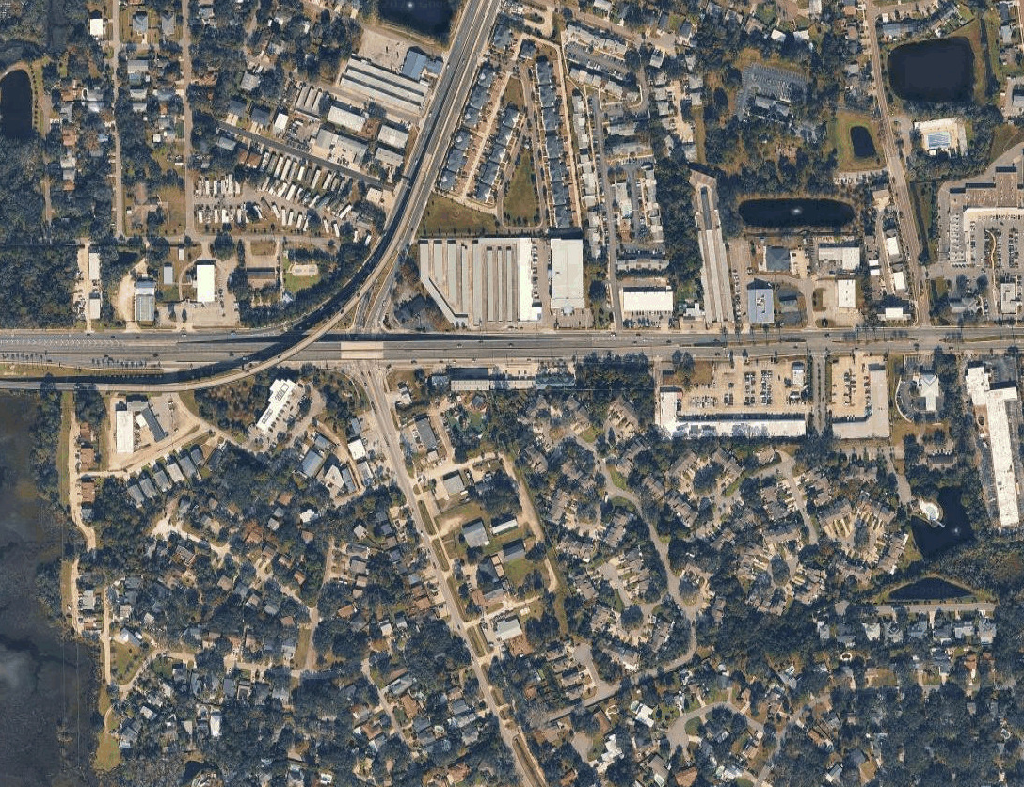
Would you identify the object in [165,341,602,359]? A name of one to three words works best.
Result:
overpass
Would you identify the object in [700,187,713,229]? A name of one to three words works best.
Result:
building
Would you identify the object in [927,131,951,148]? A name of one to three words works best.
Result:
swimming pool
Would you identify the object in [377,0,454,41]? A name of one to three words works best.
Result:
pond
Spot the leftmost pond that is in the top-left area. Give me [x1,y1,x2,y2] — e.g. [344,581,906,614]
[0,71,32,143]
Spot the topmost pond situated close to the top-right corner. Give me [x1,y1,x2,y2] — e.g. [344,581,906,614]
[888,35,974,103]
